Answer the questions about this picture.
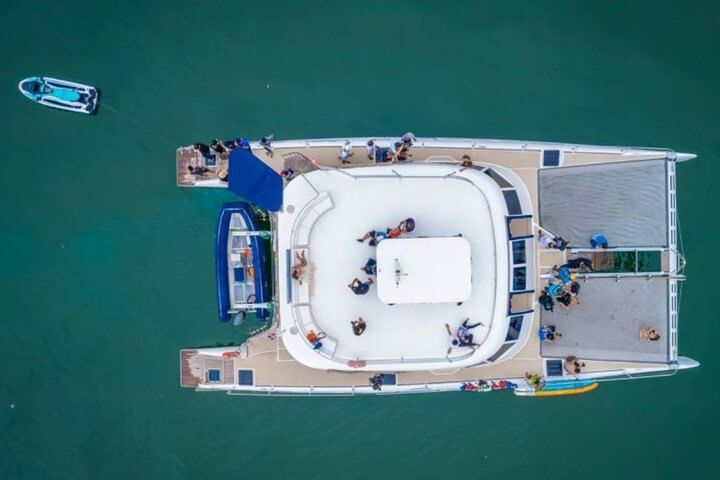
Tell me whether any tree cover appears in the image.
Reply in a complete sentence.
No, the scene doesn't show any tree cover.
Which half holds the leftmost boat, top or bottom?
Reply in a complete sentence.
The top half of the photo is where the leftmost boat is.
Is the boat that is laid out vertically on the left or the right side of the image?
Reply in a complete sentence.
It is on the left.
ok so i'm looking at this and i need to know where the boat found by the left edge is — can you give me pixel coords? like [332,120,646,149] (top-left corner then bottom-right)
[18,79,104,115]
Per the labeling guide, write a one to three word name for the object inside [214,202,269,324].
boat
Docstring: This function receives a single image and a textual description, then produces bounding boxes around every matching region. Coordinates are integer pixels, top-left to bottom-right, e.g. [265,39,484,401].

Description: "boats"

[18,79,104,115]
[176,136,699,397]
[214,202,269,324]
